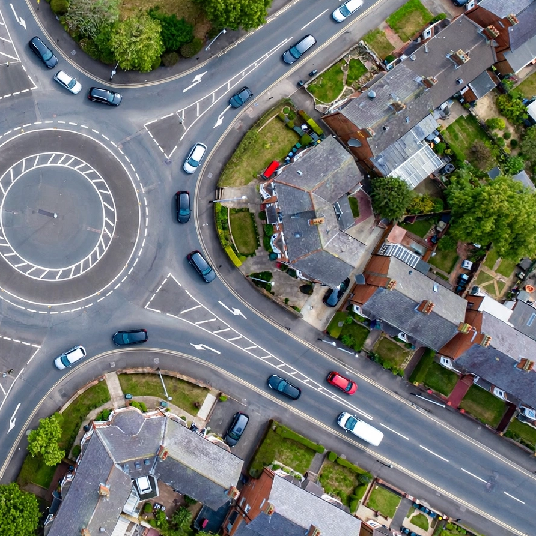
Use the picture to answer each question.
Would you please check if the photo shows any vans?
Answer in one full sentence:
Yes, this view includes a van.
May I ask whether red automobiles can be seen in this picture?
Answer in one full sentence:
Yes, there's a red automobile here.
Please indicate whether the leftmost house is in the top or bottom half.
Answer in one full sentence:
It is in the bottom half that the leftmost house appears.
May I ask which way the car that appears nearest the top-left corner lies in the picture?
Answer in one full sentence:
In this picture, the car that appears nearest the top-left corner is oriented at an angle.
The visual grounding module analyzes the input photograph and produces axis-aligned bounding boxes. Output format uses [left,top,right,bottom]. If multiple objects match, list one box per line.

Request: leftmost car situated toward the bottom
[53,343,88,370]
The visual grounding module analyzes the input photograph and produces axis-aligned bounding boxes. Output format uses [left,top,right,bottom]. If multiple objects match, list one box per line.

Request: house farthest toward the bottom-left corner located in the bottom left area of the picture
[42,401,242,536]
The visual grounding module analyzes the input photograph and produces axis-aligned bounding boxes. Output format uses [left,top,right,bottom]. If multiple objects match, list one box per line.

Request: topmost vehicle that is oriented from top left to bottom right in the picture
[27,33,60,70]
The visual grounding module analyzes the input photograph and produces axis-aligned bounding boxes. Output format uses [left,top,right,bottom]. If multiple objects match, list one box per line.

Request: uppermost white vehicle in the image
[329,0,365,23]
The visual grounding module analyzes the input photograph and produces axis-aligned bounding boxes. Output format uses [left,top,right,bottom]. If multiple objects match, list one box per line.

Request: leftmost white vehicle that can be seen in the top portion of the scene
[51,66,83,97]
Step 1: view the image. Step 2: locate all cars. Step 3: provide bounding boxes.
[53,343,88,370]
[175,189,193,223]
[279,33,318,65]
[321,280,350,310]
[86,83,124,109]
[322,368,357,395]
[224,410,248,446]
[114,328,148,347]
[27,33,60,70]
[329,0,365,23]
[186,248,215,285]
[181,141,204,176]
[265,372,304,402]
[221,79,257,113]
[51,66,83,97]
